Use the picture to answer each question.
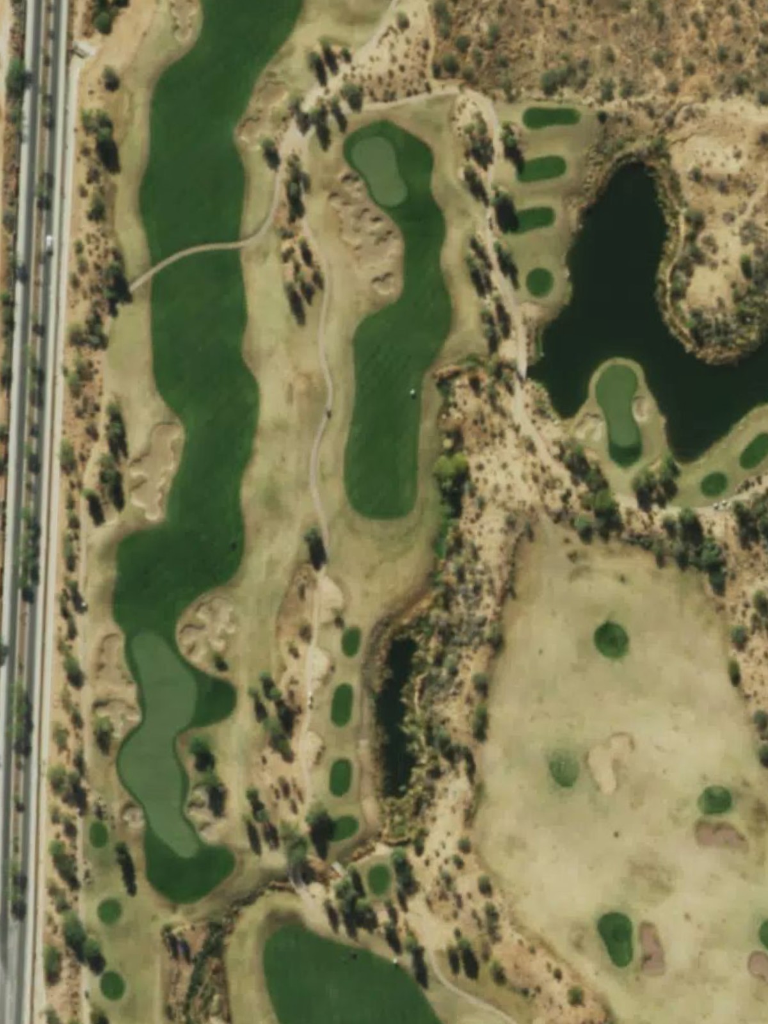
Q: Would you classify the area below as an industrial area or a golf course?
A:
golf course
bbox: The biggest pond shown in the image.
[375,634,417,798]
